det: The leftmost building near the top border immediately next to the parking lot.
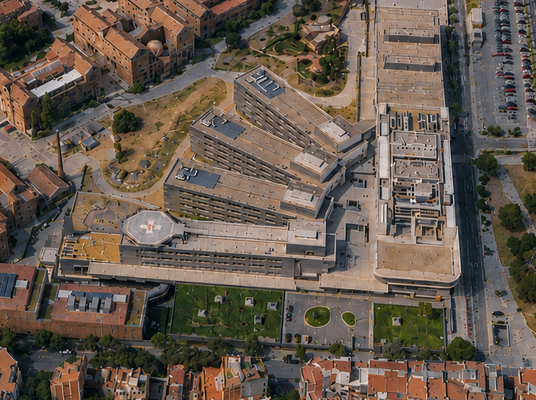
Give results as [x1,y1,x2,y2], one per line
[374,0,446,114]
